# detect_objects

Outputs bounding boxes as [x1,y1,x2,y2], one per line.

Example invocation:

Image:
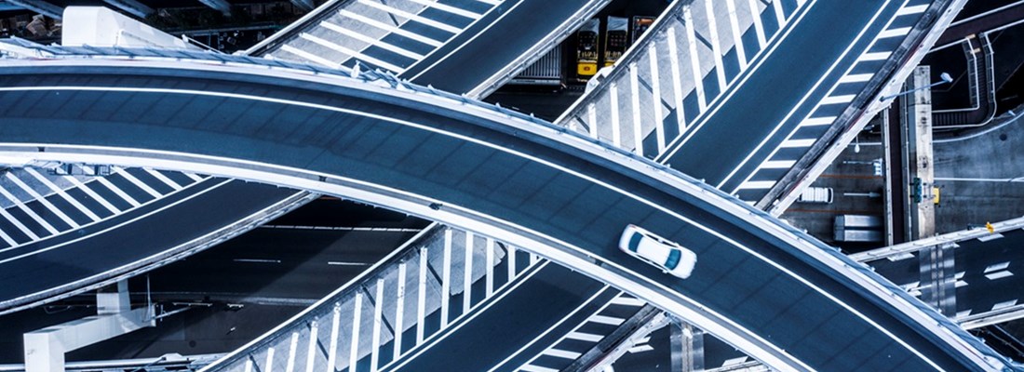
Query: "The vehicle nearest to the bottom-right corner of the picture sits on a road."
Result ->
[830,216,886,242]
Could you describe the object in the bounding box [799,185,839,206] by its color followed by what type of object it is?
white vehicle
